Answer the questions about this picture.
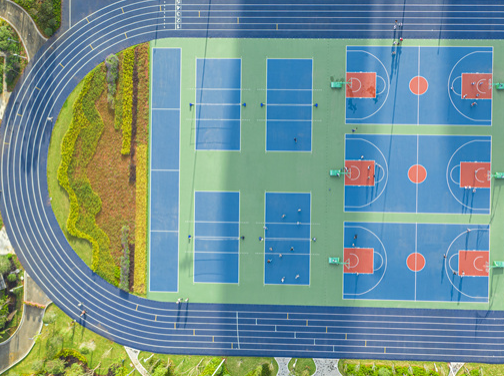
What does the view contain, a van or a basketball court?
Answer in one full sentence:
Visible in the photo is a basketball court.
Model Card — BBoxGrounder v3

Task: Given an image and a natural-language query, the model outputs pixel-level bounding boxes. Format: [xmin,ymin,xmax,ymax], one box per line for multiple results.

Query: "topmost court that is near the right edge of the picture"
[345,46,494,126]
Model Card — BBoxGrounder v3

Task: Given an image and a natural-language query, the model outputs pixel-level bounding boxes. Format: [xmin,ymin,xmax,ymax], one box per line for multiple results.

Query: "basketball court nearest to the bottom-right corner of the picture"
[342,221,490,303]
